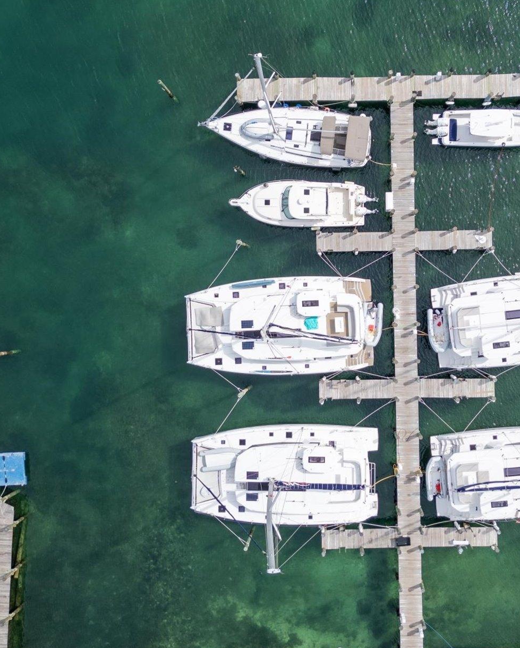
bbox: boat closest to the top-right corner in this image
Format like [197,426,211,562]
[421,109,520,147]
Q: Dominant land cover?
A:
water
